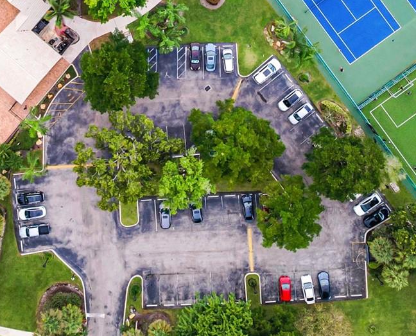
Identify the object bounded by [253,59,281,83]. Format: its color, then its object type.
white car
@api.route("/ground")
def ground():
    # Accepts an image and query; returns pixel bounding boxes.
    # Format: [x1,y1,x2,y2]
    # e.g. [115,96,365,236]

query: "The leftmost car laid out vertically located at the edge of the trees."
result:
[158,201,171,229]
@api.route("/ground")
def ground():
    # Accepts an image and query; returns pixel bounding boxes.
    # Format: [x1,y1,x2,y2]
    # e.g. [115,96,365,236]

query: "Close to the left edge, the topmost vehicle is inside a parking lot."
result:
[17,192,45,205]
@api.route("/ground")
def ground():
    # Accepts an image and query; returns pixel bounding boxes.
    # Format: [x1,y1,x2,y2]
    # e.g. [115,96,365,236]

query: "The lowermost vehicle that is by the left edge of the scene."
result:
[18,223,50,238]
